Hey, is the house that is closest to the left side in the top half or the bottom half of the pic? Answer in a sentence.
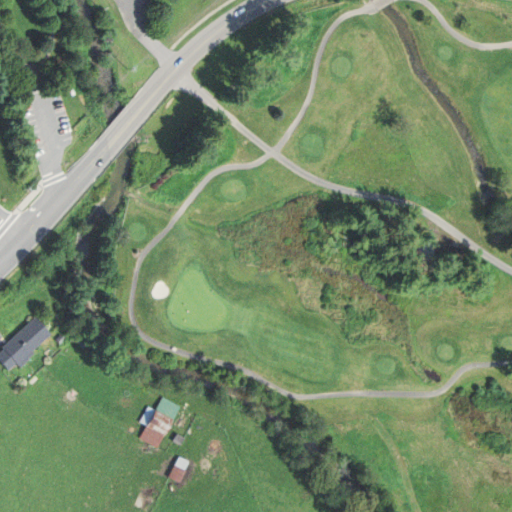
Seen from above, the house that is closest to the left side lies in the bottom half of the view.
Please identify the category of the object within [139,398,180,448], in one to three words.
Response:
barn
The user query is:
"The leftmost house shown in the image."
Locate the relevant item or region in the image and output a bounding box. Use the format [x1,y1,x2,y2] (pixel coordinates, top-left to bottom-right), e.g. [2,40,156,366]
[0,318,50,372]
